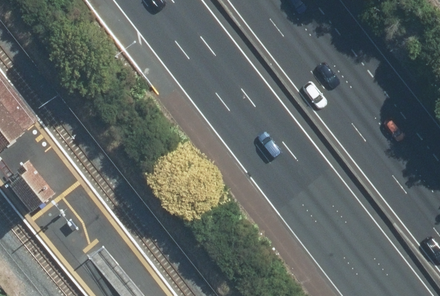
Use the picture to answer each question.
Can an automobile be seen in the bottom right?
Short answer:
Yes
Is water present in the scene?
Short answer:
No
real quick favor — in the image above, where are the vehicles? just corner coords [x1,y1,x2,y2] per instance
[302,80,329,110]
[422,236,440,264]
[256,130,281,158]
[383,118,406,143]
[148,0,165,12]
[314,60,340,91]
